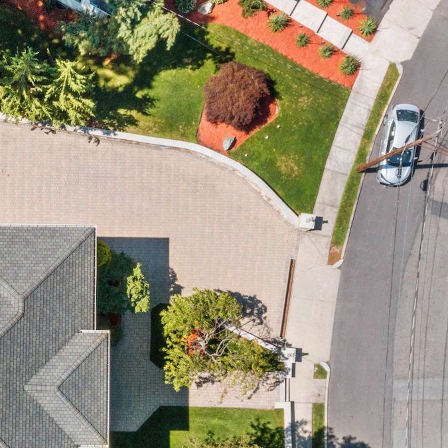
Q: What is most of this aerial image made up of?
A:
paved ground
